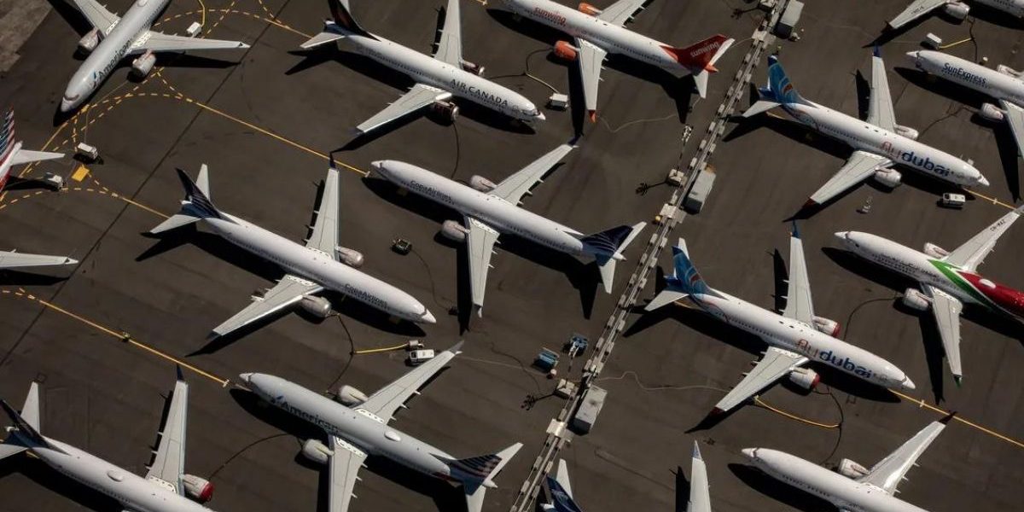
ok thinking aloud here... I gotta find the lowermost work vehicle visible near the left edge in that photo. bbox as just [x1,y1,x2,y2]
[43,173,65,190]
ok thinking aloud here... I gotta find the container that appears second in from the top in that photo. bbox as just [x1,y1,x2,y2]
[685,171,716,211]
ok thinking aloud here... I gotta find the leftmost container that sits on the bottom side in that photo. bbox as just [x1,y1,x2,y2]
[574,385,608,434]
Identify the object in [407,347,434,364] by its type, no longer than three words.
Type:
vehicle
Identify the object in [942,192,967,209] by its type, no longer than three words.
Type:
vehicle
